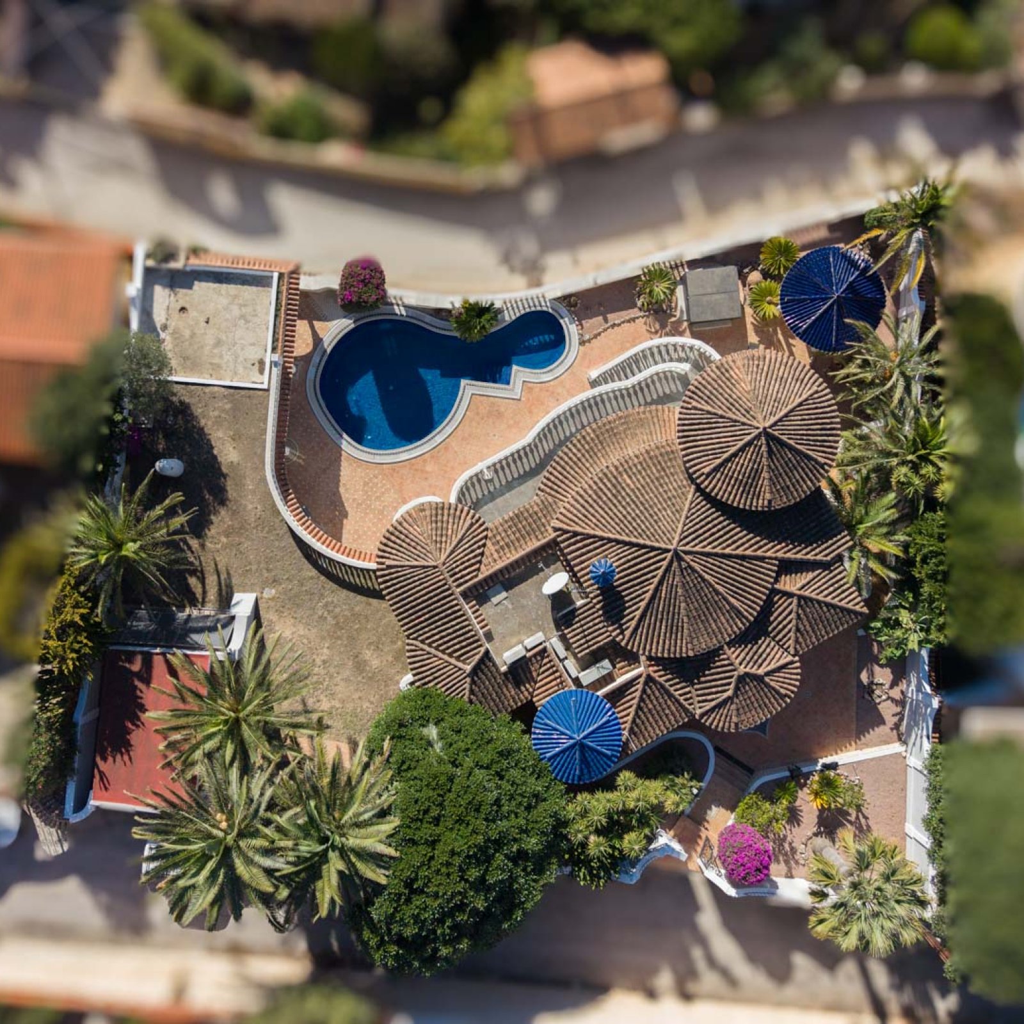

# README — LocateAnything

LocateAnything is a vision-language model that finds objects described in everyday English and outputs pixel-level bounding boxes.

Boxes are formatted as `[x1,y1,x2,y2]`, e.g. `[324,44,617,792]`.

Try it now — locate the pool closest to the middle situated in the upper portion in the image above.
[305,301,581,464]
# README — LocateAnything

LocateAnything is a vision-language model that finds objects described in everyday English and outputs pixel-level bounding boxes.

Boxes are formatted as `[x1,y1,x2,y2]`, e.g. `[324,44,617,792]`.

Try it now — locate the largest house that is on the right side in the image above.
[375,347,871,784]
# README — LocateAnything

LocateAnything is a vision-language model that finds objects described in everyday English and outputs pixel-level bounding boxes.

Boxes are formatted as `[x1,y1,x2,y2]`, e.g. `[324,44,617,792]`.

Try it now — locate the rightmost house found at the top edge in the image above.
[516,38,678,177]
